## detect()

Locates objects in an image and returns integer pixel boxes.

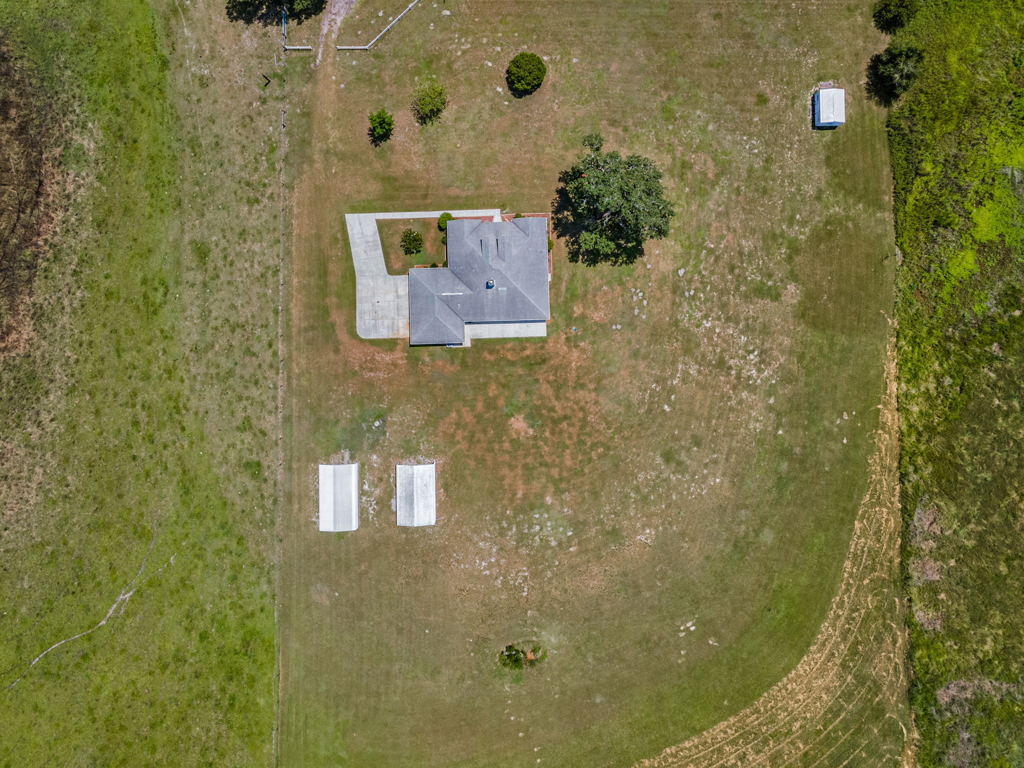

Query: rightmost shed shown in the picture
[815,85,849,125]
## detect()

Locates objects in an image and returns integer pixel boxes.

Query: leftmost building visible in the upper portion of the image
[408,216,550,344]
